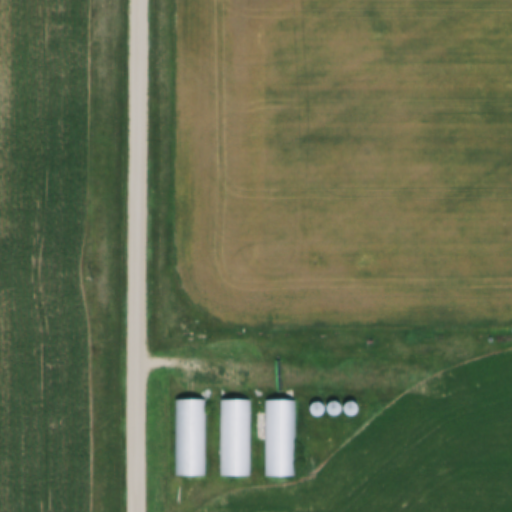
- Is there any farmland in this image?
Yes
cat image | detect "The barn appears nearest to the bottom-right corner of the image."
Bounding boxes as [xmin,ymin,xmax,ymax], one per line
[266,400,296,478]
